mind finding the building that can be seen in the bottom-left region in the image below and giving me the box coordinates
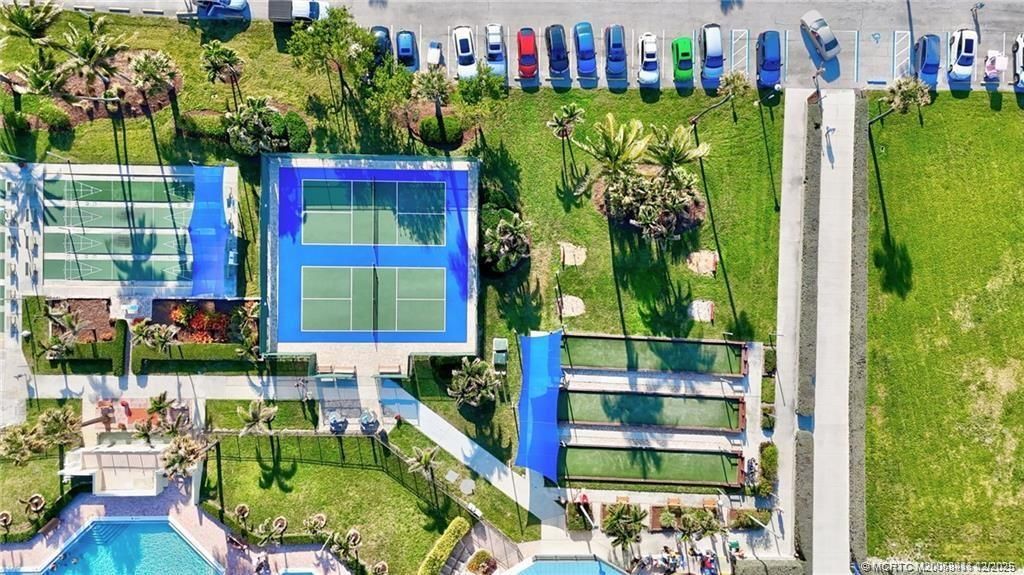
[56,439,172,497]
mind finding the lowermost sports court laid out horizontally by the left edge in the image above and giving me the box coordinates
[44,259,193,282]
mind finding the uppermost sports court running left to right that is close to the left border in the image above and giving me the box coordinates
[44,180,193,203]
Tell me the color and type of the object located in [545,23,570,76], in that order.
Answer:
blue car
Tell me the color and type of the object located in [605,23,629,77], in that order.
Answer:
blue car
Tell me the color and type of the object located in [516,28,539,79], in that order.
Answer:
red car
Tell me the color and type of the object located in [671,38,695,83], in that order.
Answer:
green car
